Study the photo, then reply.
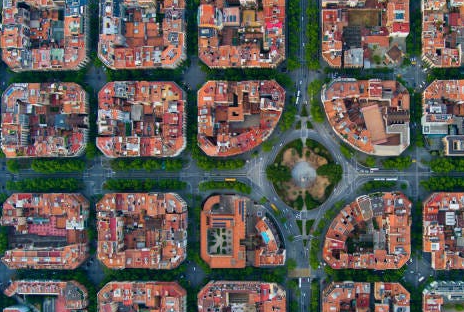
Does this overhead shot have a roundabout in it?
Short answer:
Yes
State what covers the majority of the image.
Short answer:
buildings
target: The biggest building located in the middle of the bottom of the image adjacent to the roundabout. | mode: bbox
[202,194,247,267]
